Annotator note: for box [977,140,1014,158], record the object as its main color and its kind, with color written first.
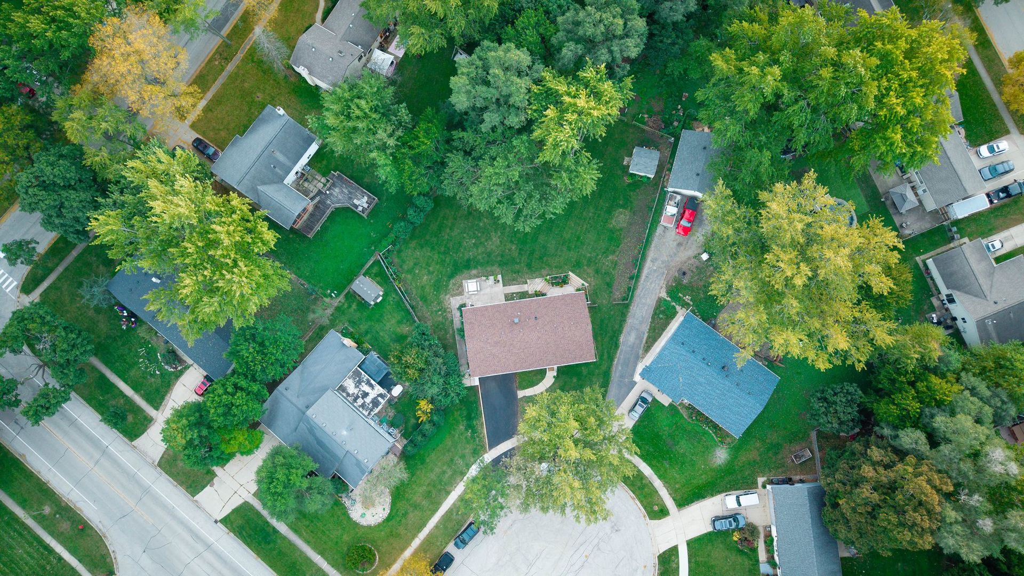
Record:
white car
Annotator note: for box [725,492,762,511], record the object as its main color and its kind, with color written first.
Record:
white car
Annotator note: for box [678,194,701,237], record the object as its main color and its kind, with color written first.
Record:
red truck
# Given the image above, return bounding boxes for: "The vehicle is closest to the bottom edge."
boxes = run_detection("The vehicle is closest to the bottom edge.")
[428,547,458,576]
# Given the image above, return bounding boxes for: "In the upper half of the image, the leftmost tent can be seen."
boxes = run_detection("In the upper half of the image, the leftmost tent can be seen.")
[367,49,397,73]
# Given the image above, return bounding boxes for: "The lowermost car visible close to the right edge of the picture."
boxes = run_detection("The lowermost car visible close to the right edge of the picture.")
[984,236,1011,254]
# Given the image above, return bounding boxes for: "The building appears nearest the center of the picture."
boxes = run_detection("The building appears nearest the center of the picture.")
[462,291,596,378]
